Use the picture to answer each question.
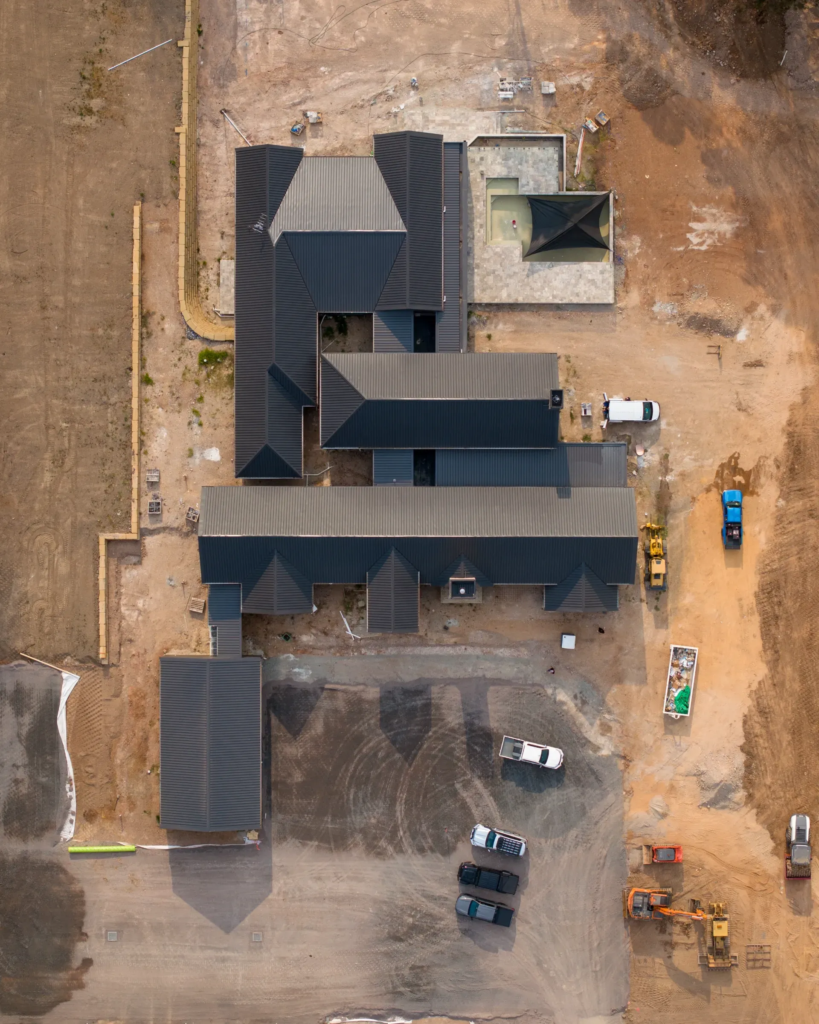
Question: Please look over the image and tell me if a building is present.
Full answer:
Yes, I can see a building in this picture.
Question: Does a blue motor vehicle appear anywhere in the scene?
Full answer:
Yes, a blue motor vehicle can be made out from above.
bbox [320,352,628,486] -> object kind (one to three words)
house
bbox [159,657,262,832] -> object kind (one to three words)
building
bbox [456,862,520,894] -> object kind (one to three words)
truck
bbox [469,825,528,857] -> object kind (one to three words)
car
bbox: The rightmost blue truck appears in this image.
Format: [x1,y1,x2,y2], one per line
[720,489,746,550]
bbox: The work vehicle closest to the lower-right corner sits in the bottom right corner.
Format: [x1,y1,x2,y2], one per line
[706,899,732,971]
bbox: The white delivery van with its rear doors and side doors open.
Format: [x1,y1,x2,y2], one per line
[604,391,660,431]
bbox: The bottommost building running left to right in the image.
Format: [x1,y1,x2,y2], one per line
[198,486,639,633]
